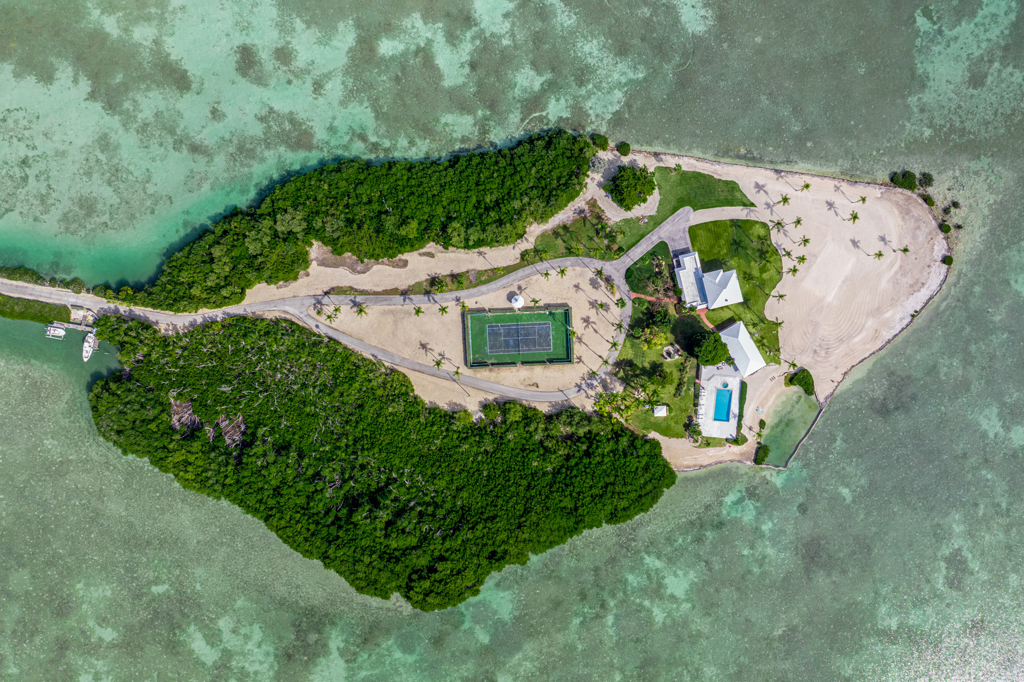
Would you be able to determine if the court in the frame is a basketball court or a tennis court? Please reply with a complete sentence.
Specifically, the court is a tennis court.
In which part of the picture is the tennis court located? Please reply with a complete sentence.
The tennis court is located in the center region of the scene.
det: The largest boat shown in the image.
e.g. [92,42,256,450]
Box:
[84,333,96,362]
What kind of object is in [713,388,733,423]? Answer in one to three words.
swimming pool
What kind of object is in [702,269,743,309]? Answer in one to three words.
house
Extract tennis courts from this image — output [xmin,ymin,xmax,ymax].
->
[470,310,570,366]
